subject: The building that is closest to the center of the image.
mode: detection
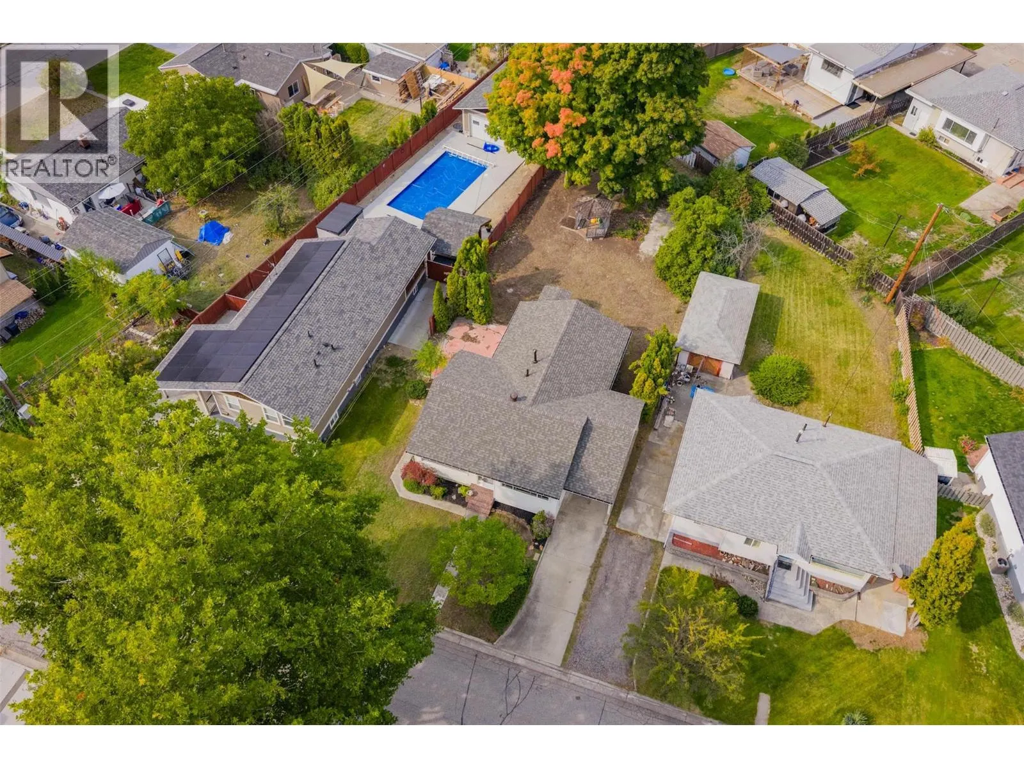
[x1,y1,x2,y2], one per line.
[405,287,643,522]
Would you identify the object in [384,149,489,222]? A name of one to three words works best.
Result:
swimming pool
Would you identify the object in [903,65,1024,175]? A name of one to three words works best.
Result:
house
